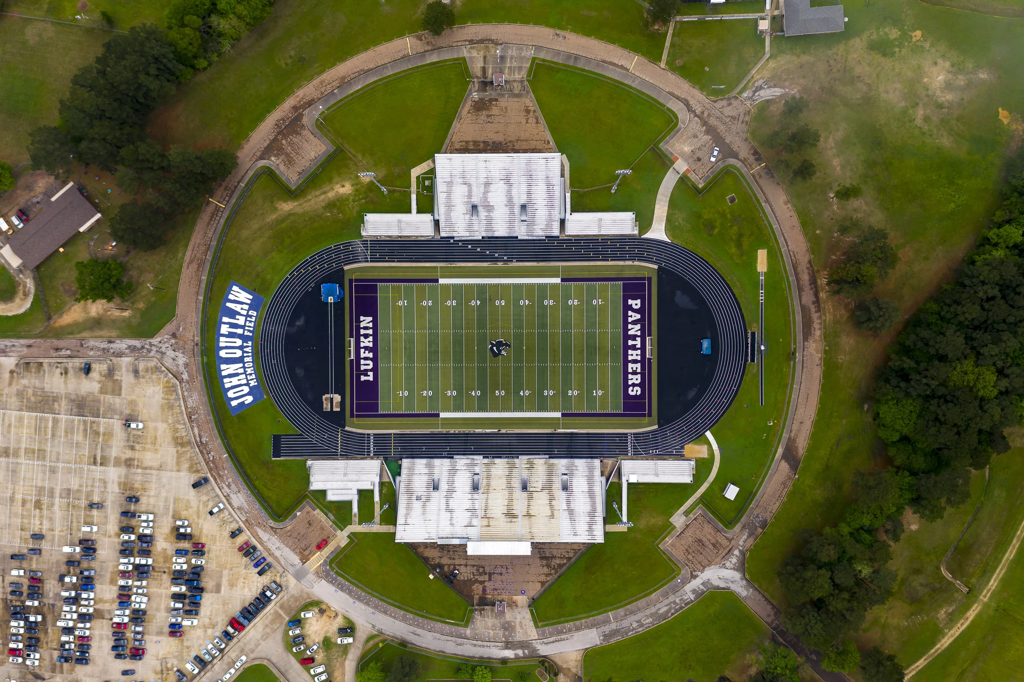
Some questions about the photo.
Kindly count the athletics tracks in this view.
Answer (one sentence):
There is 1 athletics track in the image.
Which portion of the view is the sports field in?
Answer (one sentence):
Look in the center portion of the view to spot the sports field.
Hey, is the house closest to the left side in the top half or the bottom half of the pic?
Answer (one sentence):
You can find the house closest to the left side in the top half.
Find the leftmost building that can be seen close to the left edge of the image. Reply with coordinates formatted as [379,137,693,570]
[0,181,105,270]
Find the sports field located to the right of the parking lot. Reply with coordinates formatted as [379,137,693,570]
[343,262,657,433]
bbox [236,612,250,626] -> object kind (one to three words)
vehicle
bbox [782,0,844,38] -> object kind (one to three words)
building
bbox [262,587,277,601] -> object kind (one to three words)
vehicle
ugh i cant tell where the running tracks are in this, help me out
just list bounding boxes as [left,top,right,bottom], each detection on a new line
[259,236,746,459]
